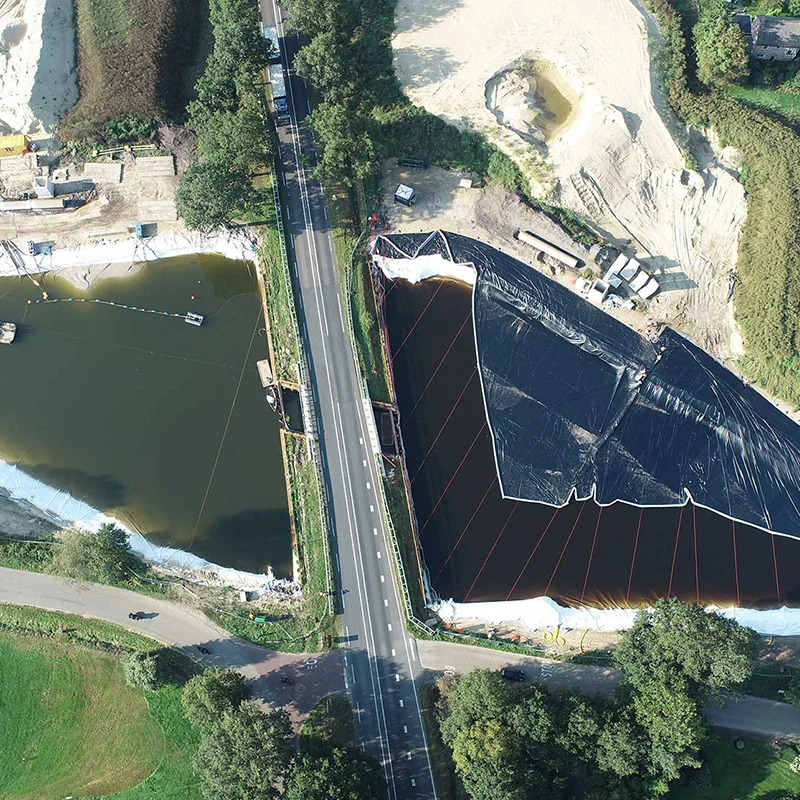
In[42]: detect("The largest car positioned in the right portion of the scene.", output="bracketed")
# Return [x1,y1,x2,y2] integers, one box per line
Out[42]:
[500,667,524,682]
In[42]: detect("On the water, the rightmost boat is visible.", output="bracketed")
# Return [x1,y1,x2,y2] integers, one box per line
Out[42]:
[265,386,277,411]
